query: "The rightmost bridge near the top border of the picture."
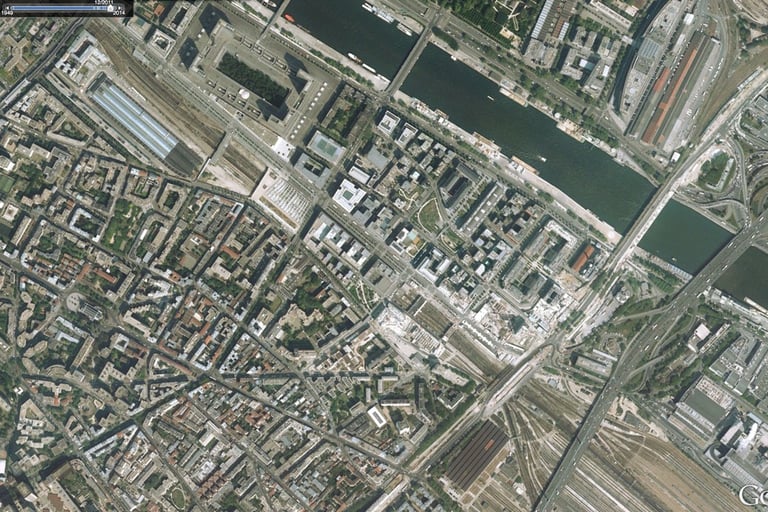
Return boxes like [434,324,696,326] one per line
[383,18,440,106]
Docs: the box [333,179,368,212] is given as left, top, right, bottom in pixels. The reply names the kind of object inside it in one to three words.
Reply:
building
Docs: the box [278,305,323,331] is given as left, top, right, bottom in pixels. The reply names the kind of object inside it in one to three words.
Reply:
building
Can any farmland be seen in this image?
No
